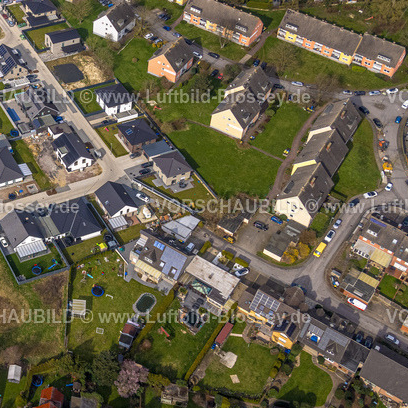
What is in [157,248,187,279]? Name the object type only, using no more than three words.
solar array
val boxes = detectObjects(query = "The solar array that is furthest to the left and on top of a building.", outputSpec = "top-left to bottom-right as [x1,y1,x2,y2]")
[0,47,14,75]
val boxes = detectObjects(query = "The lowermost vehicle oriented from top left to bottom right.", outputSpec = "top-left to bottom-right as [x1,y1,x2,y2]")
[382,332,401,346]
